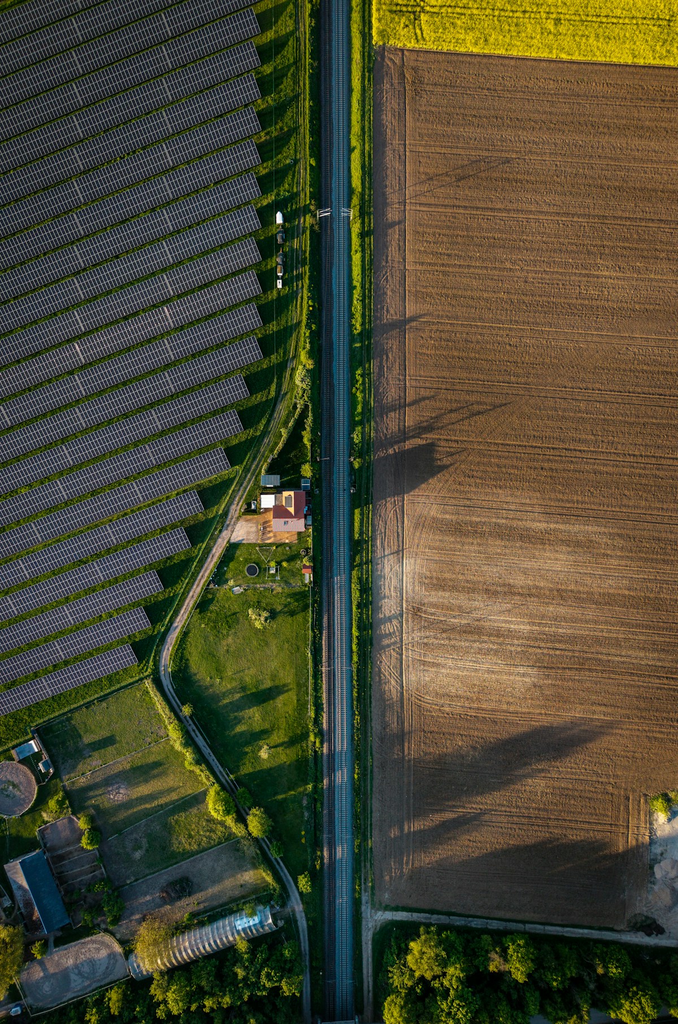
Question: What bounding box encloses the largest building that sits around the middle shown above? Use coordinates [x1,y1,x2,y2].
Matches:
[272,491,306,532]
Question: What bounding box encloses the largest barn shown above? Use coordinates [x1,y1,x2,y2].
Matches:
[5,845,73,935]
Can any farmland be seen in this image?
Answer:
Yes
